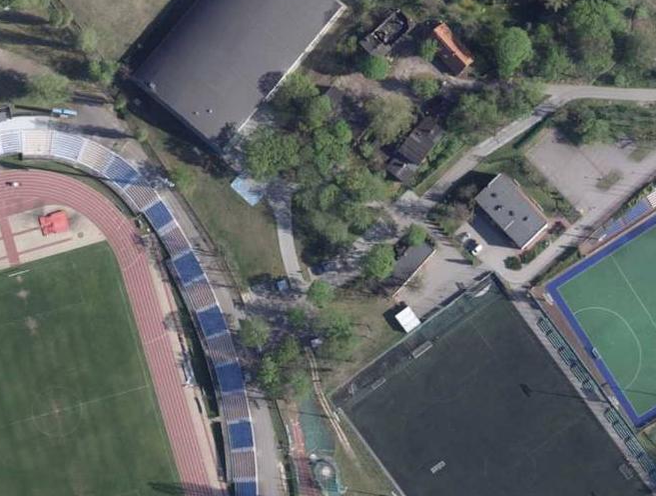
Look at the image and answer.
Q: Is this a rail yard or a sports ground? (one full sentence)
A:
This image shows a sports ground.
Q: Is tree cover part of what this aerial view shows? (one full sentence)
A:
Yes, some tree cover is visible.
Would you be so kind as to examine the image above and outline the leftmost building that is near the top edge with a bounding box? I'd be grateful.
[134,0,346,153]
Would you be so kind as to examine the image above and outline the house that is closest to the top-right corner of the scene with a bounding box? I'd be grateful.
[425,22,474,77]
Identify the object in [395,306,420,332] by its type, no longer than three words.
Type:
building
